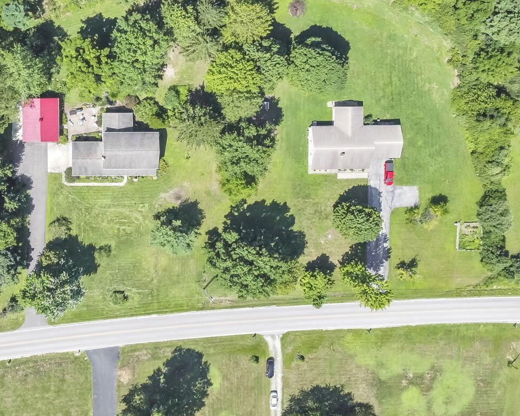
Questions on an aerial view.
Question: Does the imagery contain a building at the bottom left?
No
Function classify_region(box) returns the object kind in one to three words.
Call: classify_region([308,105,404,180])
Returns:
house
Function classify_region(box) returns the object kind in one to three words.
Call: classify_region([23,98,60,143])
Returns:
building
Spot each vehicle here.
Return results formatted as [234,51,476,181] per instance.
[265,358,276,379]
[384,161,395,186]
[270,391,279,411]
